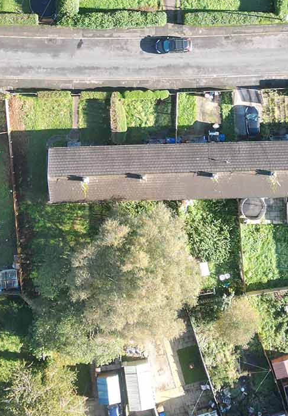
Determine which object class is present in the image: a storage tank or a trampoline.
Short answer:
trampoline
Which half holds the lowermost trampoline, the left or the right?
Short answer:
right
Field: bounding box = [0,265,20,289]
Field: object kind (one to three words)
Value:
greenhouse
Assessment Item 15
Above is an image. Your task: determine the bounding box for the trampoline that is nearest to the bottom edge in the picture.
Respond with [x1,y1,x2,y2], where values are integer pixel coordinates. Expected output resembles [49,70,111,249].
[242,199,268,224]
